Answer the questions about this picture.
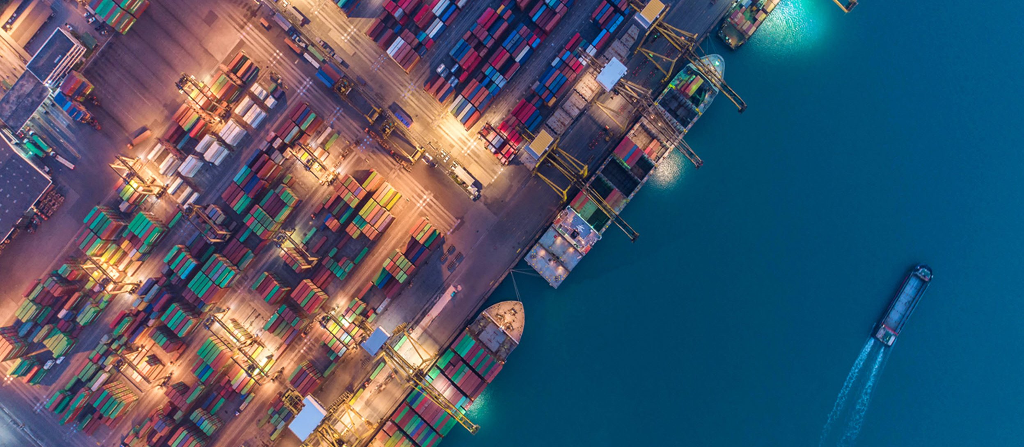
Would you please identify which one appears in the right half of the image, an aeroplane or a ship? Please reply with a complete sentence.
It is a ship that can be seen in the right half of the image.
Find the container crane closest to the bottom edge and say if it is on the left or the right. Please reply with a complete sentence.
The container crane closest to the bottom edge appears in the left half of the scene.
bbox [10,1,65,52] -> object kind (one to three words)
shed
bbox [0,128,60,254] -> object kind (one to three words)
building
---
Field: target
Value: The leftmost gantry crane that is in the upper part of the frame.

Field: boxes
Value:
[108,154,168,197]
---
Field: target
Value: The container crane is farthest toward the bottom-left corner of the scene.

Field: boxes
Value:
[111,346,171,393]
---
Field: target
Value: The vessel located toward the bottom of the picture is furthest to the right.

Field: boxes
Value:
[872,264,934,347]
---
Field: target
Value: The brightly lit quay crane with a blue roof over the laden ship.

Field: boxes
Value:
[356,317,480,438]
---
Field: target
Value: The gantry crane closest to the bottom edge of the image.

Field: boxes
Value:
[293,389,386,447]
